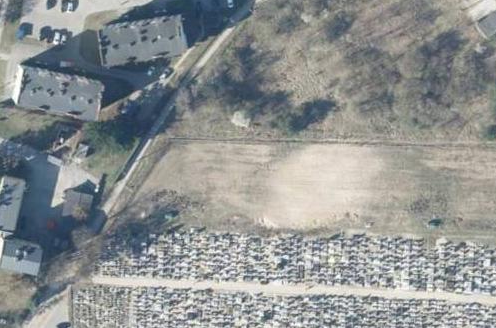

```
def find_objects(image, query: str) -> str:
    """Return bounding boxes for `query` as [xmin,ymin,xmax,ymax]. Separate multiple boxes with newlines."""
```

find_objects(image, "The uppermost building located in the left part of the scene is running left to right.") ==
[92,14,187,66]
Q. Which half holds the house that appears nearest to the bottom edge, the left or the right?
left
